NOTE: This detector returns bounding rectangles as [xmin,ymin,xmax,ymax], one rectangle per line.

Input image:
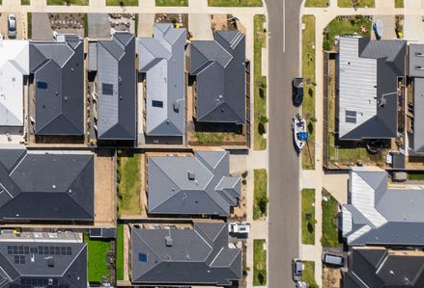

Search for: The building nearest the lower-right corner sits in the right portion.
[339,246,424,288]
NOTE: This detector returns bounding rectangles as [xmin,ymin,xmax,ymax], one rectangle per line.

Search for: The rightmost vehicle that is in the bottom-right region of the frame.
[322,254,345,268]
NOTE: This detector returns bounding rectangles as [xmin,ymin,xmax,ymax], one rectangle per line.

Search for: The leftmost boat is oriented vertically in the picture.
[295,116,307,155]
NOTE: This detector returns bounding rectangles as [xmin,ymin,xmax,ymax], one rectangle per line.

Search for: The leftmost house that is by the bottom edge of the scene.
[0,238,88,288]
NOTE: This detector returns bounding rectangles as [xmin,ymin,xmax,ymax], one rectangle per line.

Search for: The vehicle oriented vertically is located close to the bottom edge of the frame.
[292,257,304,284]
